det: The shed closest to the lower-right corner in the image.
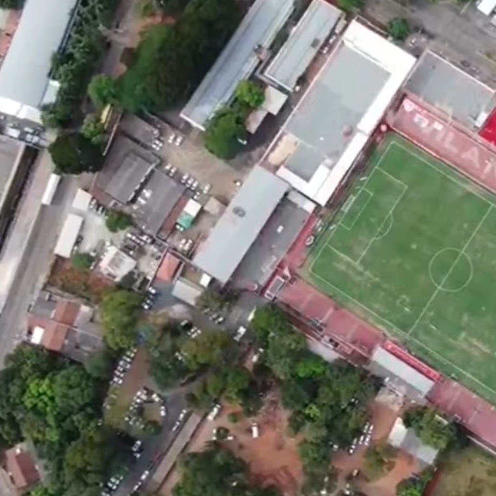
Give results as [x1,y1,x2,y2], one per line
[401,427,439,465]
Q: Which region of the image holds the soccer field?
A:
right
